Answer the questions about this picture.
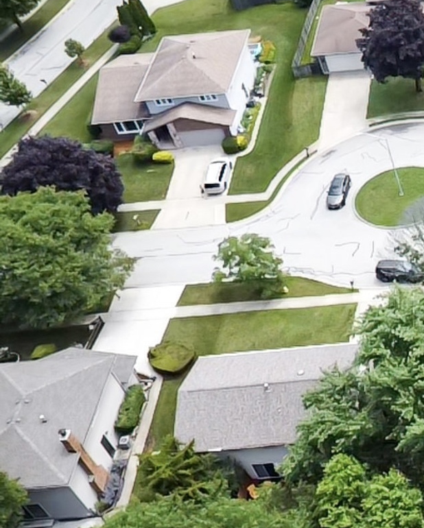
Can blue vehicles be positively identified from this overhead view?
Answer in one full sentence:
No, I find no blue vehicle anywhere in the image.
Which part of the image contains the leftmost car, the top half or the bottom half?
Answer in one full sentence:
The leftmost car sits in the top half of the picture.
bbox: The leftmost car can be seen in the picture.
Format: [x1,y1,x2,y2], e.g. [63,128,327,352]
[198,161,228,195]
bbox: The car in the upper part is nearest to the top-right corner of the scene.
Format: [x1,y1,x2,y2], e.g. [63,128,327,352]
[324,172,349,206]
